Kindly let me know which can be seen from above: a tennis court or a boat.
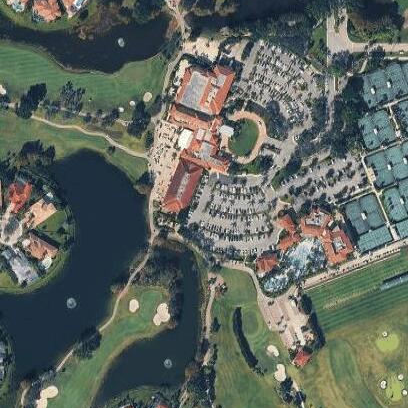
tennis court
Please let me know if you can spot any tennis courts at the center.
No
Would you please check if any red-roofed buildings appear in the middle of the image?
Yes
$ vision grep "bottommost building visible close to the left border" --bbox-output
[13,251,37,282]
